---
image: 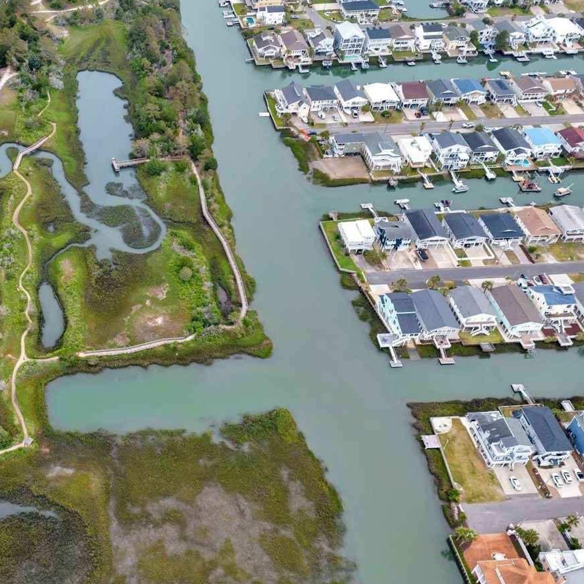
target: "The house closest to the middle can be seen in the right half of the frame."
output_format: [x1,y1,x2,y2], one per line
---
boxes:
[336,222,376,252]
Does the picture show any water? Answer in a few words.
Yes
